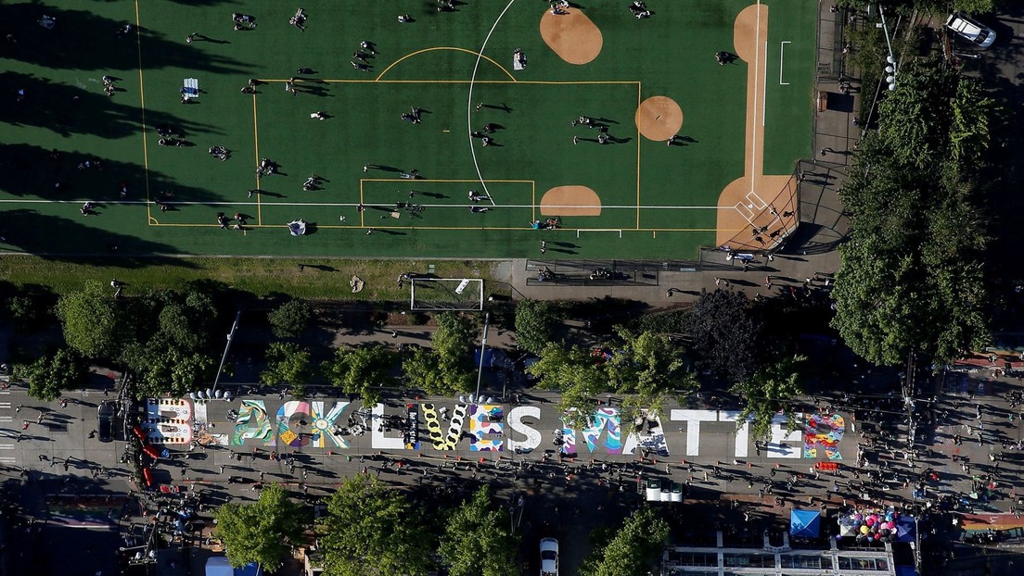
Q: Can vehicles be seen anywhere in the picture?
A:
Yes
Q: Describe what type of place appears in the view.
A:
sports ground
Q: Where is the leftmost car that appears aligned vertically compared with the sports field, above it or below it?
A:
below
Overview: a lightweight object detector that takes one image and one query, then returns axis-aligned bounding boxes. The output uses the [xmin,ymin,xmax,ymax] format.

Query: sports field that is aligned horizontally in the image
[0,0,819,262]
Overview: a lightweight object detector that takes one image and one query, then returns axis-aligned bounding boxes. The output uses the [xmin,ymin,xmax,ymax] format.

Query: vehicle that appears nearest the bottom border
[538,540,560,576]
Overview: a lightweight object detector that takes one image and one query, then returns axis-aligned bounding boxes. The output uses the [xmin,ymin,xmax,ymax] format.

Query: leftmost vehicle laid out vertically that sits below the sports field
[95,401,116,443]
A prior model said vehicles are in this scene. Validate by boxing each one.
[95,401,116,443]
[538,540,560,576]
[947,14,997,47]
